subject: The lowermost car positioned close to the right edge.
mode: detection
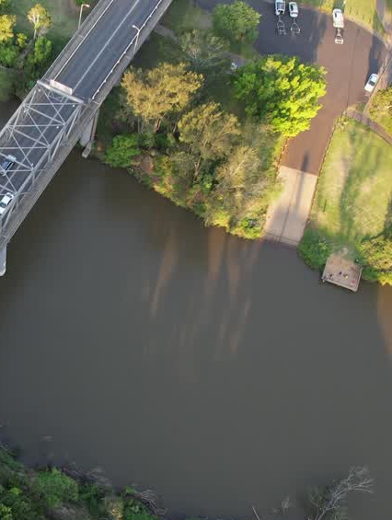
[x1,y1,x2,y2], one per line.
[362,74,378,93]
